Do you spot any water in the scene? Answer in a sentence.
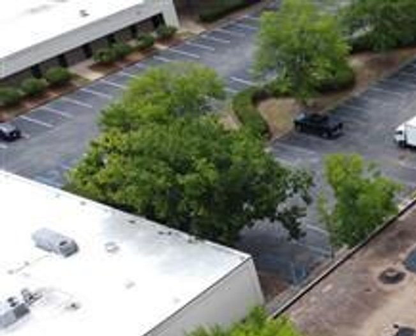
No, the scene doesn't show any water.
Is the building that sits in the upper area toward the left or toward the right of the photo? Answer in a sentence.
It is on the left.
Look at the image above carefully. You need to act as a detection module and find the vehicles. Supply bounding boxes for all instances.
[391,118,416,148]
[0,119,19,140]
[296,107,350,135]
